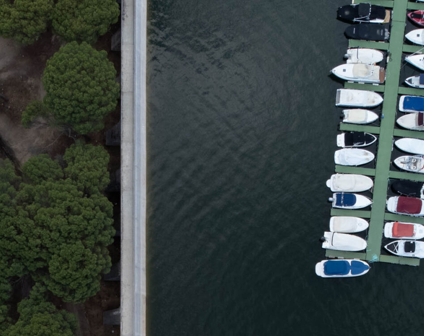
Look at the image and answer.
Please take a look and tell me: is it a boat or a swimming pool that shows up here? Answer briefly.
boat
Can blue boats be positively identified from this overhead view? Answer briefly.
Yes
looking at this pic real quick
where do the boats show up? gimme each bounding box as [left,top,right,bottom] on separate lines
[345,25,392,44]
[340,109,380,124]
[387,180,424,197]
[315,259,371,277]
[402,30,424,46]
[335,90,384,110]
[404,12,424,26]
[345,48,389,64]
[329,217,371,232]
[338,2,392,25]
[395,113,424,132]
[383,222,424,240]
[331,64,386,84]
[383,241,424,256]
[390,156,424,174]
[329,194,374,209]
[386,197,424,217]
[335,133,377,149]
[395,138,424,153]
[396,92,424,114]
[399,77,424,88]
[401,48,424,73]
[335,149,376,167]
[327,175,374,192]
[320,233,368,253]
